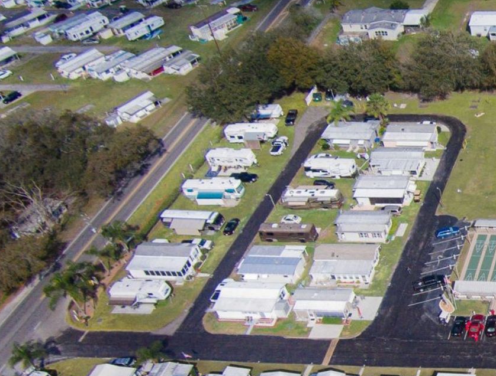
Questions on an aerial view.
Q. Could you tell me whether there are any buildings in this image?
Yes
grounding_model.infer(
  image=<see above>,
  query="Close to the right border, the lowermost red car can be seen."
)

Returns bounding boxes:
[467,316,483,338]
